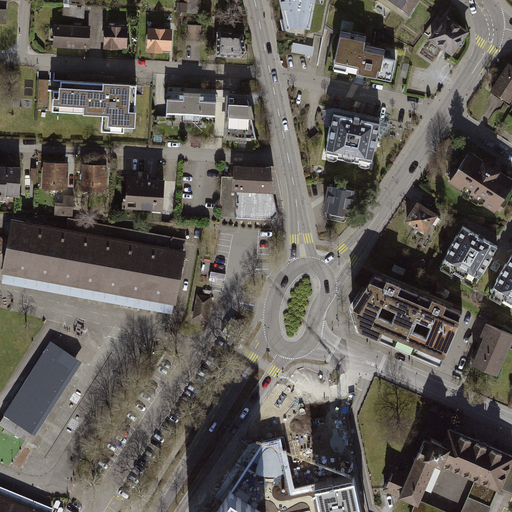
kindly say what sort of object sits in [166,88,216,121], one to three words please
building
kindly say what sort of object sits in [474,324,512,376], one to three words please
house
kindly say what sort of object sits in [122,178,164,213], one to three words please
house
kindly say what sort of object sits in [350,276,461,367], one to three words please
building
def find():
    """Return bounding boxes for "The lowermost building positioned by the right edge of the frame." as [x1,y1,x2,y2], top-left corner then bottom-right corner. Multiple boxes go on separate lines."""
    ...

[402,430,512,512]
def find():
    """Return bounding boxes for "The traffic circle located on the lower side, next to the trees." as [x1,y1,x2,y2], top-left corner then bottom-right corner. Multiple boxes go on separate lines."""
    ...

[258,252,342,365]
